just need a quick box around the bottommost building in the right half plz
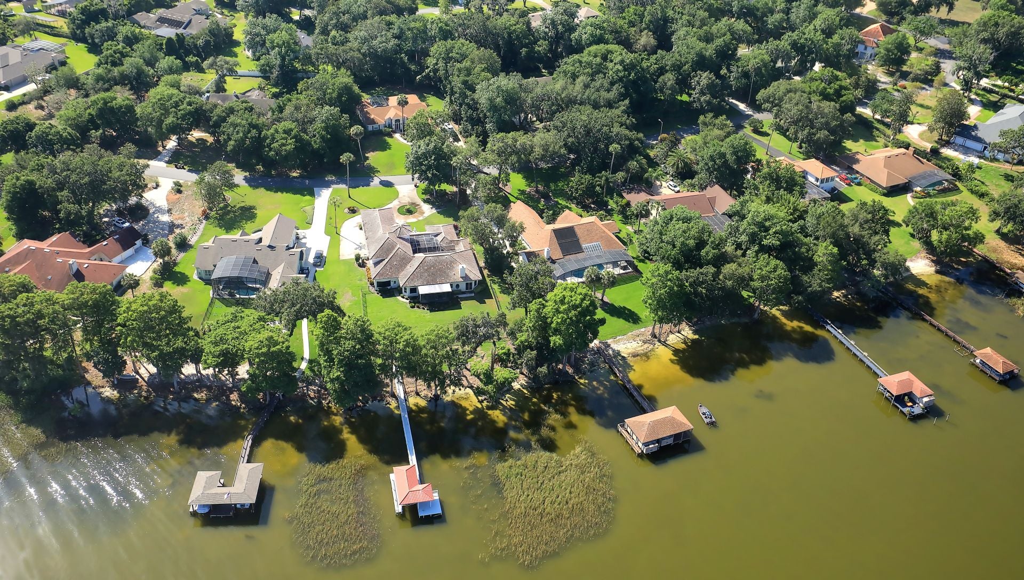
[614,405,694,458]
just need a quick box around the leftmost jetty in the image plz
[227,393,285,487]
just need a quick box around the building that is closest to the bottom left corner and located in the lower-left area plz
[188,462,264,520]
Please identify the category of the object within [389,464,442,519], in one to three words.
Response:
building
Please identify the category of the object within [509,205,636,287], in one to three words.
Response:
house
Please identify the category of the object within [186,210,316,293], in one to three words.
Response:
house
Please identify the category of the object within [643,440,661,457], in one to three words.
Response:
boat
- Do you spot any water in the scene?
Yes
